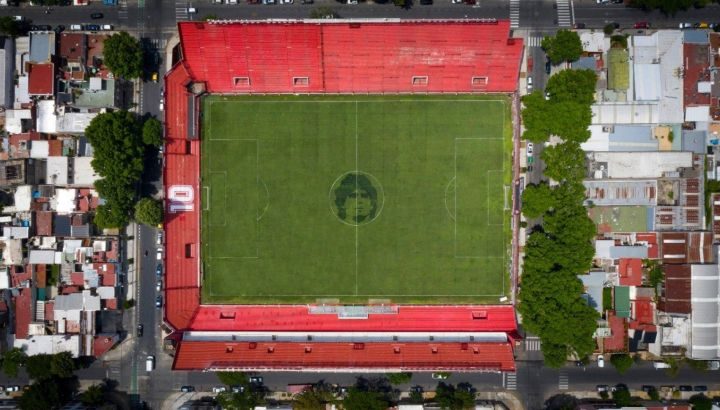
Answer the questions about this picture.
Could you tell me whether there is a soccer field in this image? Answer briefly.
Yes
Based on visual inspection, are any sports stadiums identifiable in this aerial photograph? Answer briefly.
Yes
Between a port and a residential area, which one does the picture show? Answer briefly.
residential area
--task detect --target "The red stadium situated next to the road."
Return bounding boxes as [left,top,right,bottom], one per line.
[163,17,525,371]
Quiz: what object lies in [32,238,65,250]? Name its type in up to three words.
house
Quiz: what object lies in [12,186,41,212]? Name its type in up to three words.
house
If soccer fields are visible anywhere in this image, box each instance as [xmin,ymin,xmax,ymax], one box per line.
[198,92,513,305]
